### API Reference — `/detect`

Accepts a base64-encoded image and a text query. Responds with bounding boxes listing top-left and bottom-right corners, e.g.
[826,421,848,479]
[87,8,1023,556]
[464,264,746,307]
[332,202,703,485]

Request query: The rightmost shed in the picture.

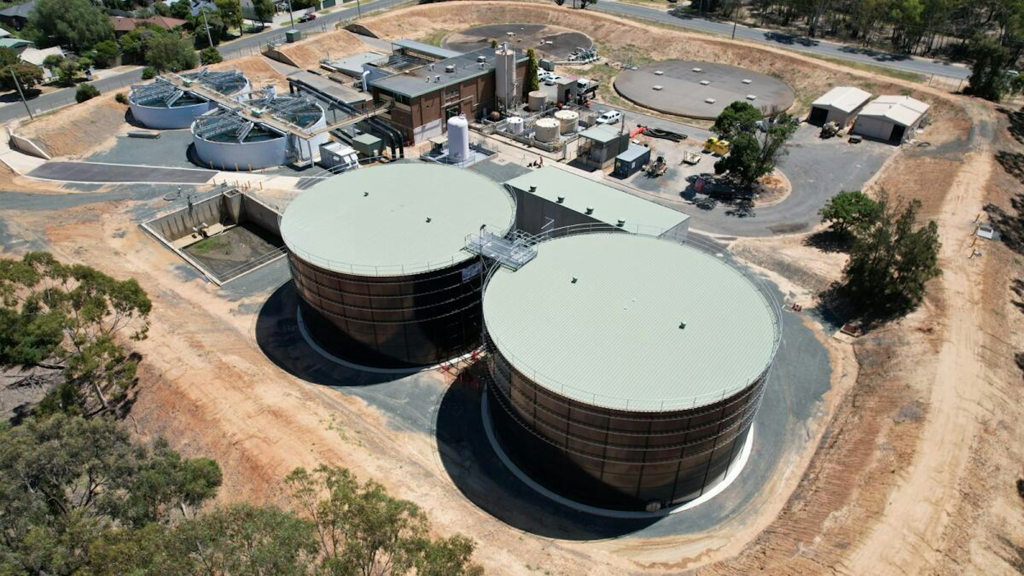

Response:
[854,93,930,142]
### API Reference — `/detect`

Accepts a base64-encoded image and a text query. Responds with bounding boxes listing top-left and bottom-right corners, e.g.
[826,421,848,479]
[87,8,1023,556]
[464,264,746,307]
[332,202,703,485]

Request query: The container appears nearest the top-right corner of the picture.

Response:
[614,146,651,177]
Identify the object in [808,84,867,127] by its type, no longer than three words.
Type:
shed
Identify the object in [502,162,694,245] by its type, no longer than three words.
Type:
building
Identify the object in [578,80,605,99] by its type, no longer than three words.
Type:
vehicle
